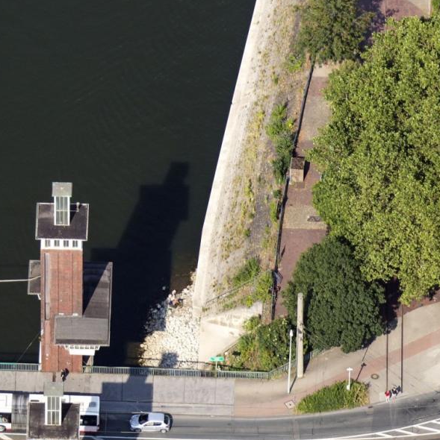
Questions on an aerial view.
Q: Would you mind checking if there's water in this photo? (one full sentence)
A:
Yes, water can be seen from above here.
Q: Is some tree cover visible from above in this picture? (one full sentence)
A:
Yes, some tree cover is visible.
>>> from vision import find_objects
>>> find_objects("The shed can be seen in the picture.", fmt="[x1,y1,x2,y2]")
[289,156,305,182]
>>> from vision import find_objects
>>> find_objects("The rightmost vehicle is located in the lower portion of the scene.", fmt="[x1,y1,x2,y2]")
[131,410,173,432]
